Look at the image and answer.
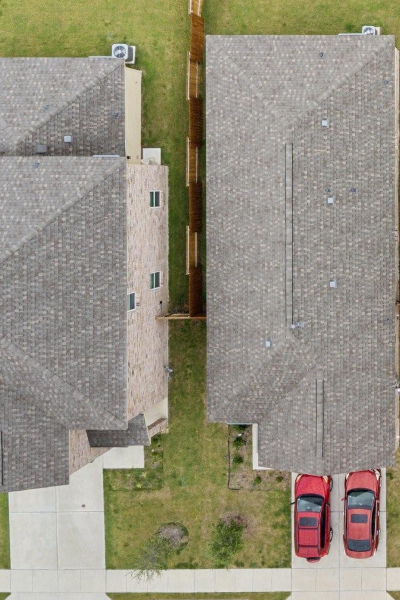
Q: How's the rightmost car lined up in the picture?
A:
from top to bottom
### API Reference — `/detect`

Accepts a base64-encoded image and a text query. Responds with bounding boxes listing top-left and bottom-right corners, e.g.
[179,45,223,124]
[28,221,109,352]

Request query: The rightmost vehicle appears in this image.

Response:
[341,470,383,558]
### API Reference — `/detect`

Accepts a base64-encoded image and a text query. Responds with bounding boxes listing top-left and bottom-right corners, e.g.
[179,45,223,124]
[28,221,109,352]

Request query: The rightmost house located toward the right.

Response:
[206,32,400,477]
